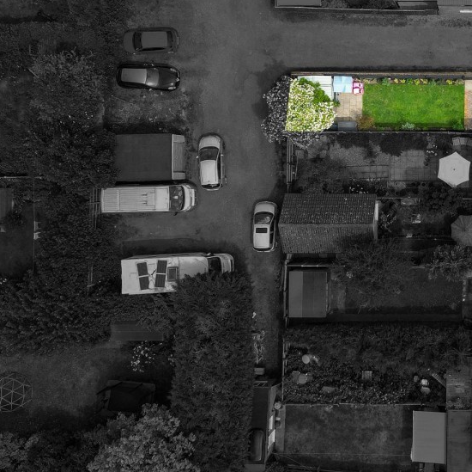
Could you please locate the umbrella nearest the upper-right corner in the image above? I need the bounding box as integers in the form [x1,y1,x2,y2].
[438,150,471,186]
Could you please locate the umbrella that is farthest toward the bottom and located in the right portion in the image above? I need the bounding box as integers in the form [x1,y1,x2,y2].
[451,214,472,246]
